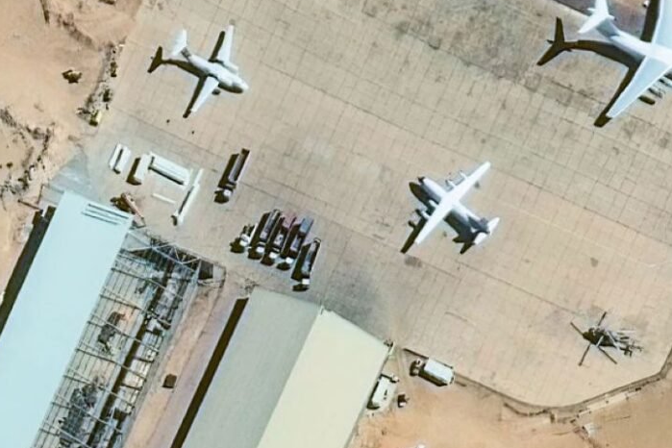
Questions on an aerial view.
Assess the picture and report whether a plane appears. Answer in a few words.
Yes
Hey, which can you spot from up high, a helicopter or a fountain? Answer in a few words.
helicopter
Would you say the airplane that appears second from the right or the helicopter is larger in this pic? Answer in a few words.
the airplane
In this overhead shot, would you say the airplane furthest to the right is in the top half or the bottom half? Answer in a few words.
top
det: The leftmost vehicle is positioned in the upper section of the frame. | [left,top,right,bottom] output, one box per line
[64,66,82,83]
